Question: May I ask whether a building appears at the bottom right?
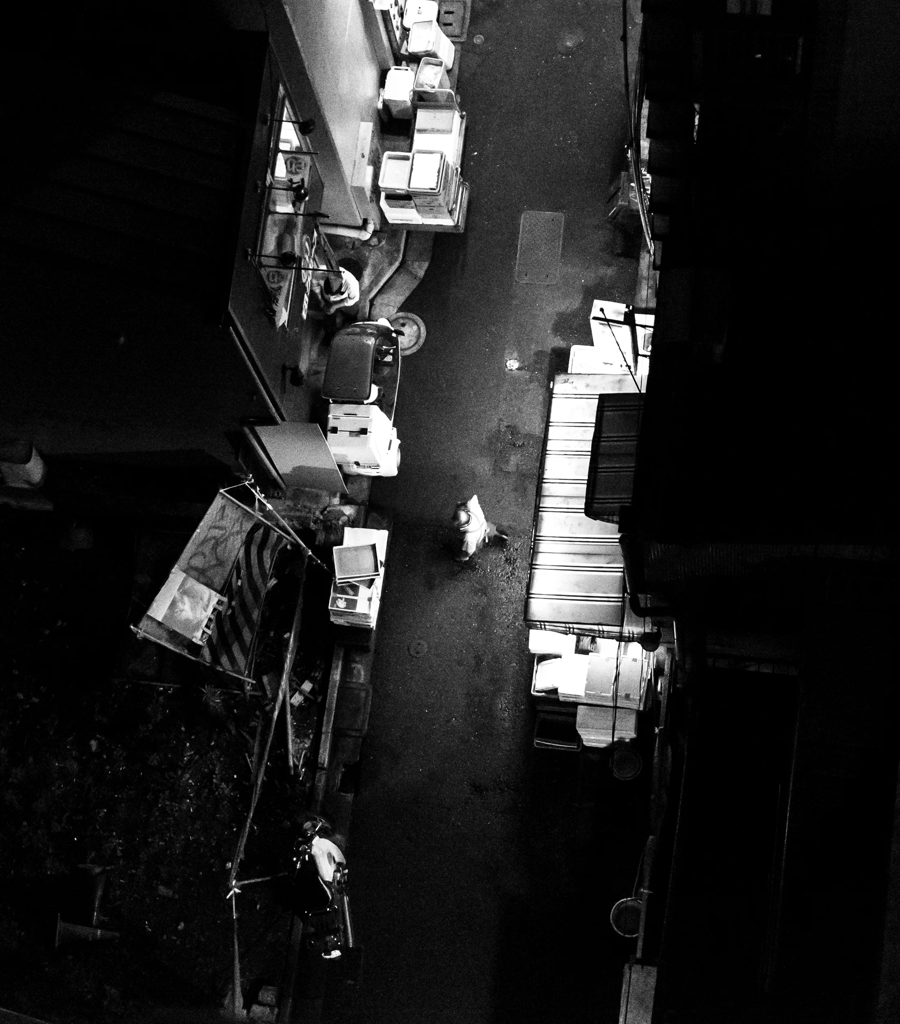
Yes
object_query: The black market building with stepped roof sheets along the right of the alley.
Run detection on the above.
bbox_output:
[616,0,900,648]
